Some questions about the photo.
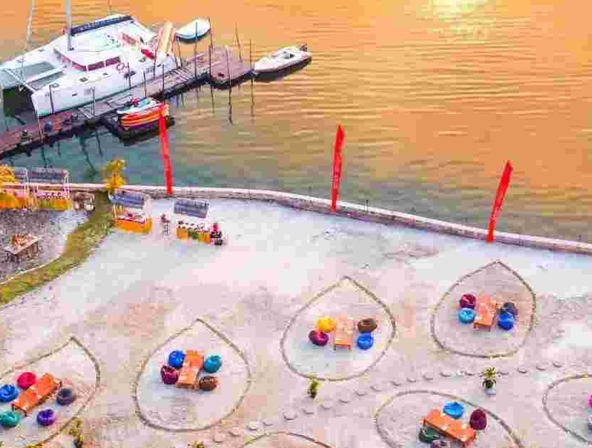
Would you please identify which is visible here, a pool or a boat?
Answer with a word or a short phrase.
boat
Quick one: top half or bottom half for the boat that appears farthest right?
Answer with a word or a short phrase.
top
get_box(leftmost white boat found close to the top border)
[0,0,181,119]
